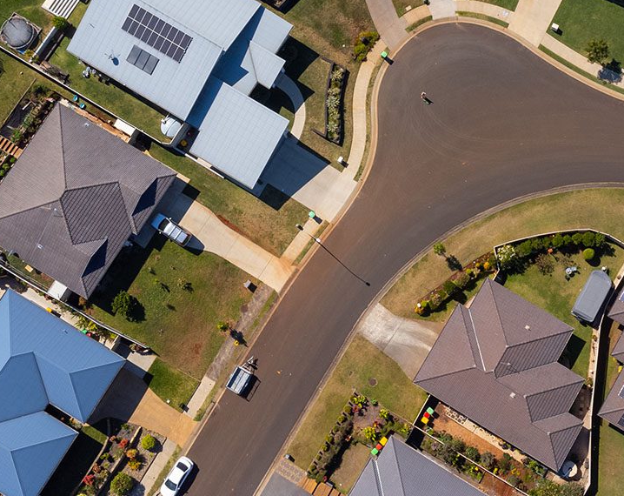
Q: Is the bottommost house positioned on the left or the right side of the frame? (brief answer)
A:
right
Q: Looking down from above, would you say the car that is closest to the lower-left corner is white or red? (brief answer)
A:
white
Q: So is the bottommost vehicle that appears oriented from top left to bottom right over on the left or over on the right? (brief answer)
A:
left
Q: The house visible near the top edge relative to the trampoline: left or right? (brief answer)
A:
to its right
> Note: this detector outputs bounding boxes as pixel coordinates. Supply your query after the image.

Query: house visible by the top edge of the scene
[66,0,294,189]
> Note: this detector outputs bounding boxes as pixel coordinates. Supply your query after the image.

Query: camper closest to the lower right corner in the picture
[571,267,608,325]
